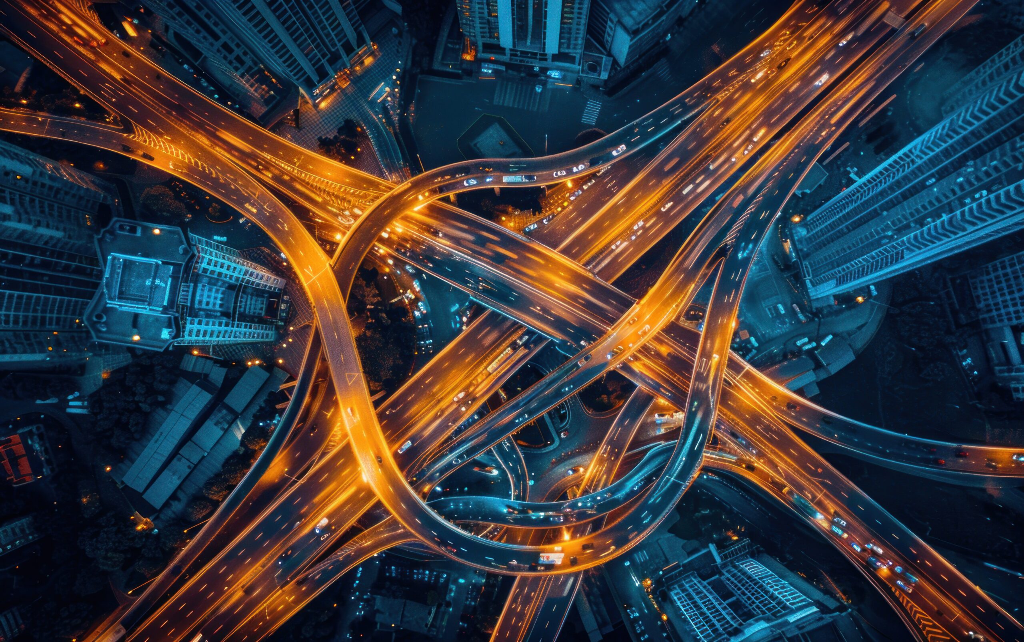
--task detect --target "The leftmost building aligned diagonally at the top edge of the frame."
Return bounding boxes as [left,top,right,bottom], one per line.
[124,0,295,126]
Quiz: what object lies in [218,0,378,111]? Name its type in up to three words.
building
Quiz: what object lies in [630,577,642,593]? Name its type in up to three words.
vehicle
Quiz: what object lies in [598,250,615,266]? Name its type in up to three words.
vehicle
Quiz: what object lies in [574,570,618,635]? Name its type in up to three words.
shed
